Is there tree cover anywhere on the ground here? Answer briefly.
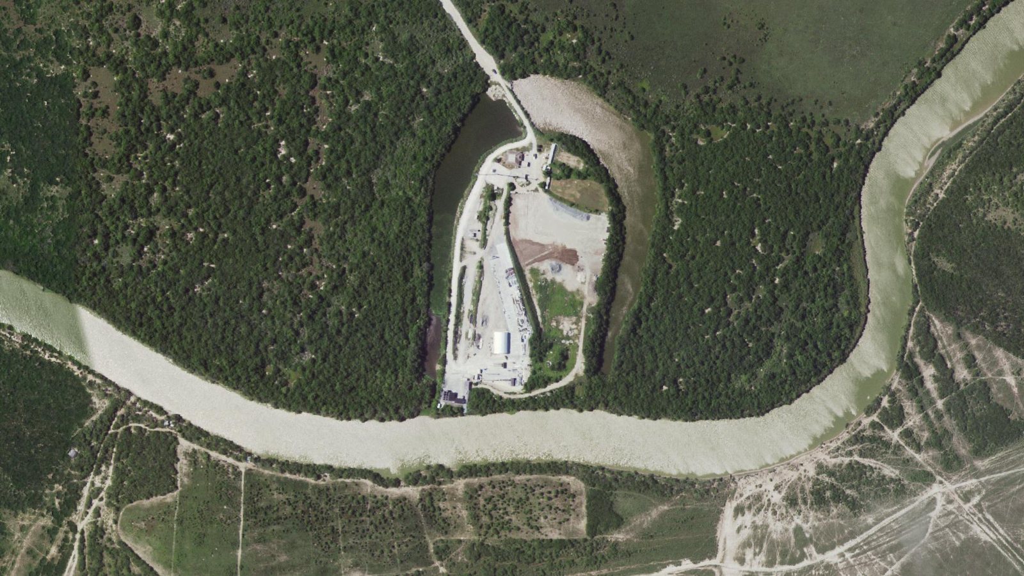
Yes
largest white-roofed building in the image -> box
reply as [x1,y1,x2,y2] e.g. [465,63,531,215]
[493,332,509,354]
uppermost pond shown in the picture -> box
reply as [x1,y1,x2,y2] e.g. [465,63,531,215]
[432,95,521,313]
